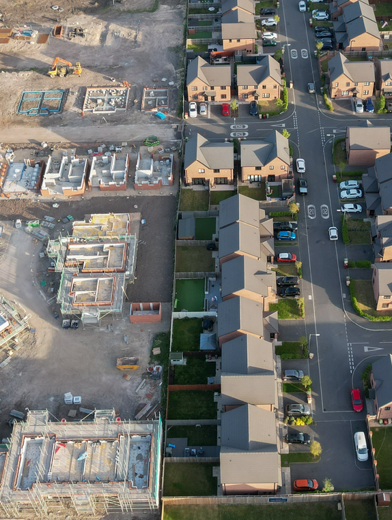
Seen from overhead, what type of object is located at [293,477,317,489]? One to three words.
vehicle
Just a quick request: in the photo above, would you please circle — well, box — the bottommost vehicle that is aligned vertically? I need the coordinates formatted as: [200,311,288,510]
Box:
[353,428,370,460]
